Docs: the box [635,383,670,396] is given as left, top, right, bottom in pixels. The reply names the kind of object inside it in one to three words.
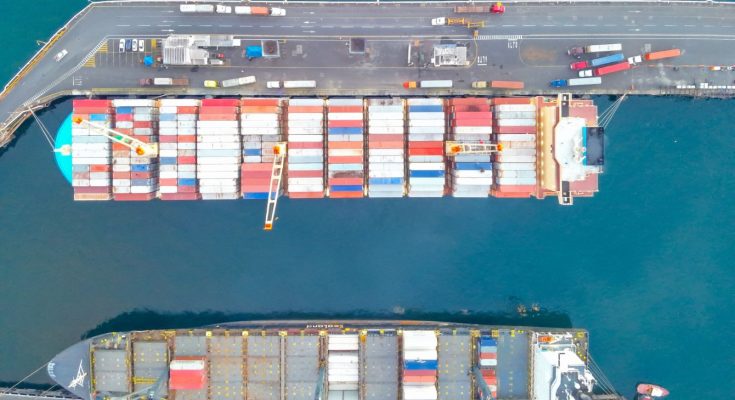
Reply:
boat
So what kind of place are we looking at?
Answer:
port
